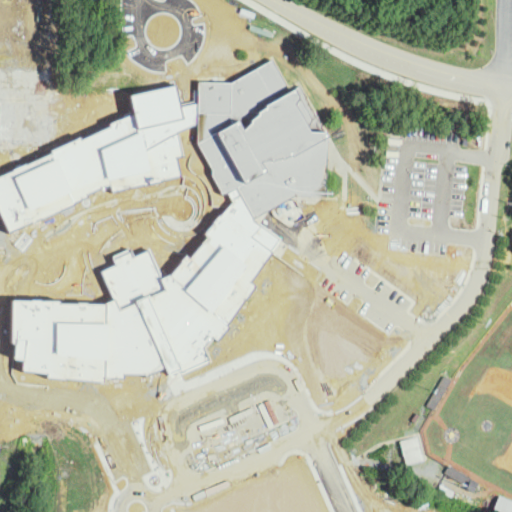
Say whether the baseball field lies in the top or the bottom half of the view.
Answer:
bottom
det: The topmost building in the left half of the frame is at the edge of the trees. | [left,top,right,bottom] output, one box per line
[0,58,328,384]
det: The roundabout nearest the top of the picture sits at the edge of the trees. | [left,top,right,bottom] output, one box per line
[124,0,206,74]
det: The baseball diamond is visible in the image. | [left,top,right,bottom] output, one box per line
[422,300,512,502]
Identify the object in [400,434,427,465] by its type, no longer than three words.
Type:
building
